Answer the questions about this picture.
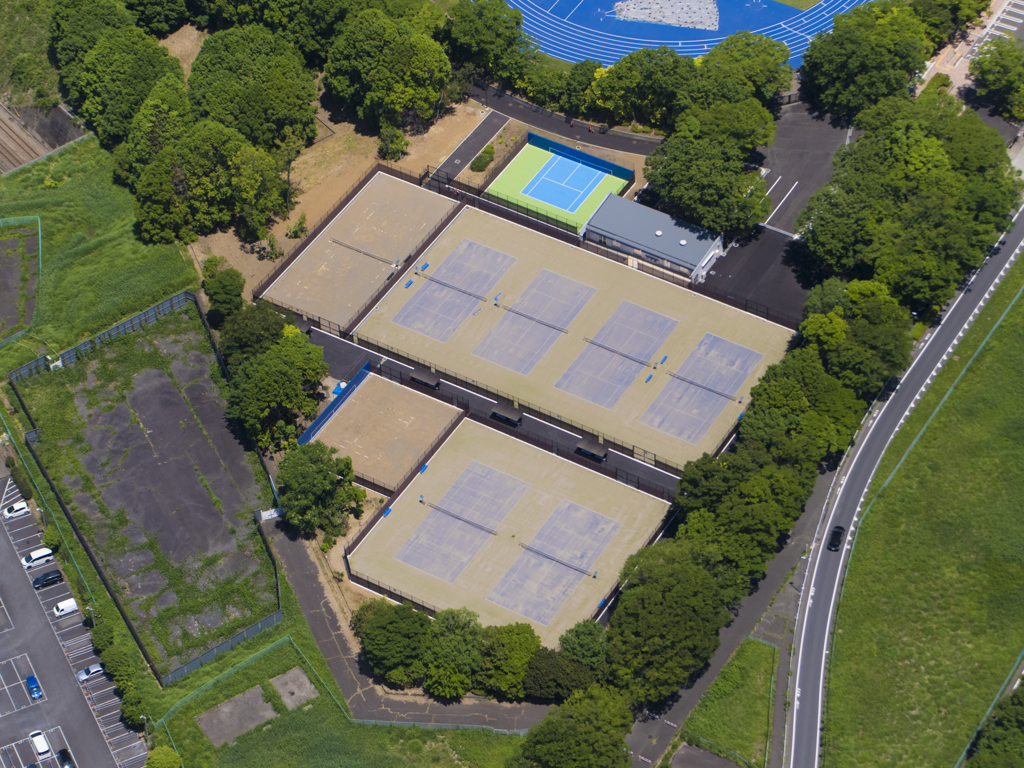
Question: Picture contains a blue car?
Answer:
Yes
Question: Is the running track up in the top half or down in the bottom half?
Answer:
top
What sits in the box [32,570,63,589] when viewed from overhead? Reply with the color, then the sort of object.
black car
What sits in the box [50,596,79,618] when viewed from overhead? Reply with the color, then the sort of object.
white vehicle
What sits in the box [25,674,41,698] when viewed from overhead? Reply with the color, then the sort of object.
blue car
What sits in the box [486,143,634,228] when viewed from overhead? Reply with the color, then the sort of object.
green tennis court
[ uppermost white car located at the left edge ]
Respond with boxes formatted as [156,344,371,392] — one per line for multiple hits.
[4,502,30,519]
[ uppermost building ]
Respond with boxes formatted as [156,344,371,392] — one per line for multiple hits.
[579,187,724,283]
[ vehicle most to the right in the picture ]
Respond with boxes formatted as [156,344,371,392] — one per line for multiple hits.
[828,525,844,550]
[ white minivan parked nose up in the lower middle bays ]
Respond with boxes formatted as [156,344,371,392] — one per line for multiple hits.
[29,731,50,759]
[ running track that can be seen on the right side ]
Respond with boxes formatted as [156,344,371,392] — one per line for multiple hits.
[464,0,869,80]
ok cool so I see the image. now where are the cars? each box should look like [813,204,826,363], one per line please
[828,525,844,550]
[25,674,41,698]
[57,749,76,768]
[32,570,63,589]
[27,762,40,768]
[29,731,50,759]
[76,663,107,683]
[4,502,30,519]
[21,547,53,569]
